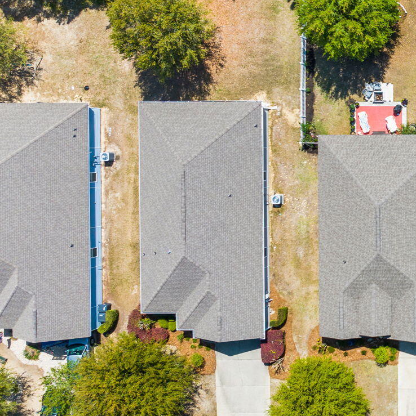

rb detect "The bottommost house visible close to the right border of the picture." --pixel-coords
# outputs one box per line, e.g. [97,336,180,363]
[319,135,416,343]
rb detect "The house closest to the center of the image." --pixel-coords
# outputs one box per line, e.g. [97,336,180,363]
[139,100,269,342]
